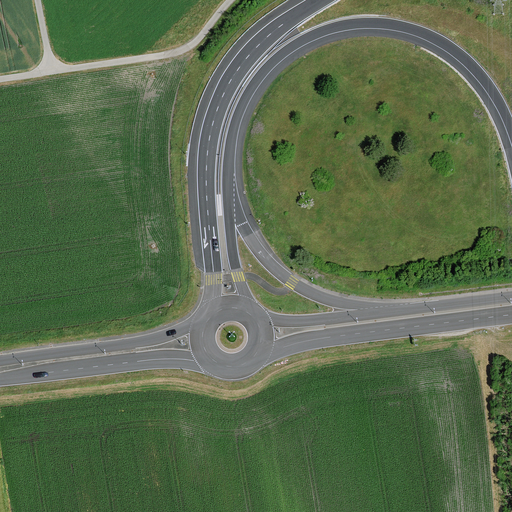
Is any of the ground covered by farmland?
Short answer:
Yes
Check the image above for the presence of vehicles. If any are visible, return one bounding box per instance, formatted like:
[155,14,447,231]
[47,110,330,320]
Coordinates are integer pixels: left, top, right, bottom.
[212,238,218,252]
[33,371,48,378]
[166,330,176,336]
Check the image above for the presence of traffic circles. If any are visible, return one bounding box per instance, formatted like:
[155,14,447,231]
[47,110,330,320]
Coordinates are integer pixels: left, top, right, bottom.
[190,294,274,380]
